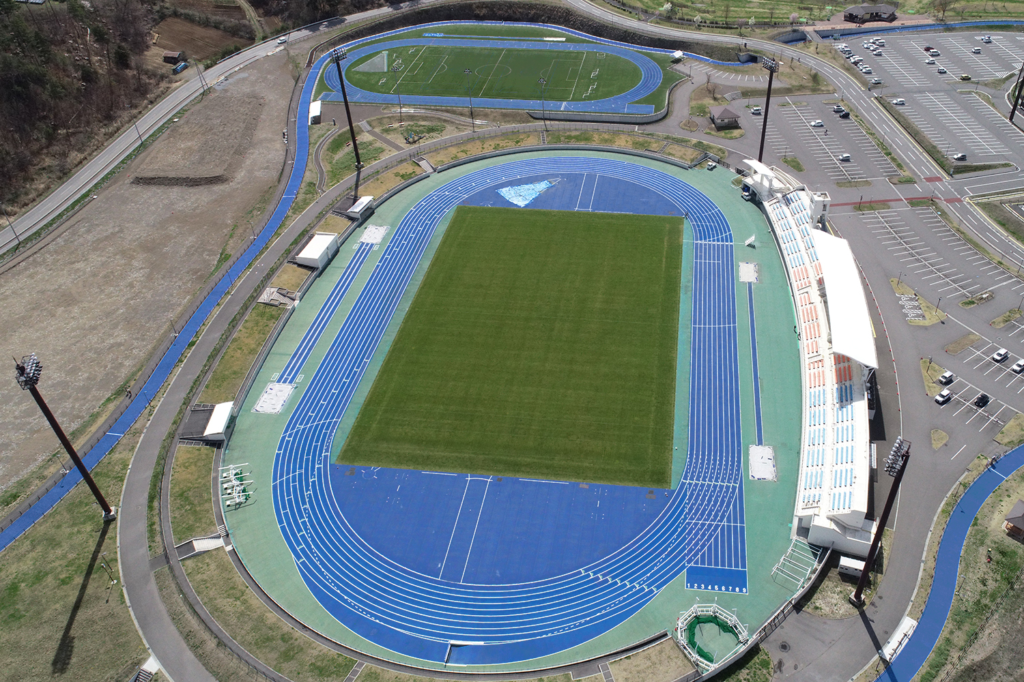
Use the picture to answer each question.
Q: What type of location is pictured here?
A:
sports ground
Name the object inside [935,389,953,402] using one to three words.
vehicle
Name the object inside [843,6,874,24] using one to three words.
house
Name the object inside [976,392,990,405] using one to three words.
vehicle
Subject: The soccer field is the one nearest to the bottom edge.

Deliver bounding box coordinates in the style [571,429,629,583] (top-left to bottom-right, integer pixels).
[335,206,684,489]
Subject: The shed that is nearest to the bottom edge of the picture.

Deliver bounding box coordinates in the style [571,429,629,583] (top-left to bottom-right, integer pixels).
[837,556,866,579]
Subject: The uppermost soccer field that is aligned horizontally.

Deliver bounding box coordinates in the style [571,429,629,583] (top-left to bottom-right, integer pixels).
[347,45,643,101]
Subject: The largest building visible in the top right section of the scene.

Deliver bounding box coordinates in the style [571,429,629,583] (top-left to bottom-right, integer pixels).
[741,160,805,212]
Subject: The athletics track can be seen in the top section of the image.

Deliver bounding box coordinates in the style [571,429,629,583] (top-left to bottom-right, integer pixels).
[310,25,686,115]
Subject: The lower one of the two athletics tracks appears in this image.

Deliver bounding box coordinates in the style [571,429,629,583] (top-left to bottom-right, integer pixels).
[224,148,827,676]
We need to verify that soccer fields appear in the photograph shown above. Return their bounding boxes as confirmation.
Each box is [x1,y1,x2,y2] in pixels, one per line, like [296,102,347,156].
[347,45,643,101]
[335,206,684,489]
